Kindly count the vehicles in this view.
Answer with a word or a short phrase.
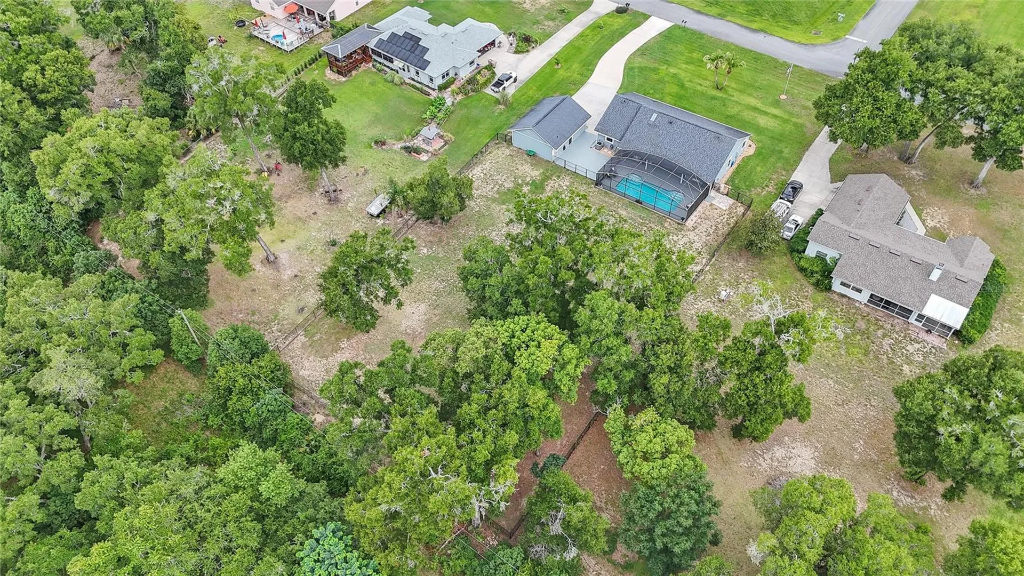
4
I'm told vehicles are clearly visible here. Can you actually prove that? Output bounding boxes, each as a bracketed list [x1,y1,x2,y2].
[781,177,802,205]
[488,73,521,95]
[780,212,804,241]
[769,193,793,226]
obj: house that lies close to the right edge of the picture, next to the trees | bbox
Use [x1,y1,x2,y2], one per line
[804,170,997,339]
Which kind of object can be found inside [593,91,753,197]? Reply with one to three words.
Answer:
house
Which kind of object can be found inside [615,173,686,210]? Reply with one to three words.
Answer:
swimming pool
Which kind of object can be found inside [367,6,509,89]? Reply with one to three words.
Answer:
house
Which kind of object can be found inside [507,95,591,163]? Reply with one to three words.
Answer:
building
